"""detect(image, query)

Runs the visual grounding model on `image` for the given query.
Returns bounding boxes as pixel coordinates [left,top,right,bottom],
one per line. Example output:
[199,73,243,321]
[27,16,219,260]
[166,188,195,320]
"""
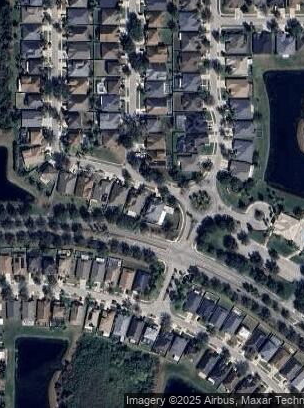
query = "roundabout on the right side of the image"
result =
[180,180,221,220]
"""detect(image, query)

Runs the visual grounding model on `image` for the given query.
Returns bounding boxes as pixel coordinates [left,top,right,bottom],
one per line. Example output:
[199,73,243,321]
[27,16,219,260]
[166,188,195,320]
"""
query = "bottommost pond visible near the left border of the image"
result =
[14,335,67,408]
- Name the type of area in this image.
residential area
